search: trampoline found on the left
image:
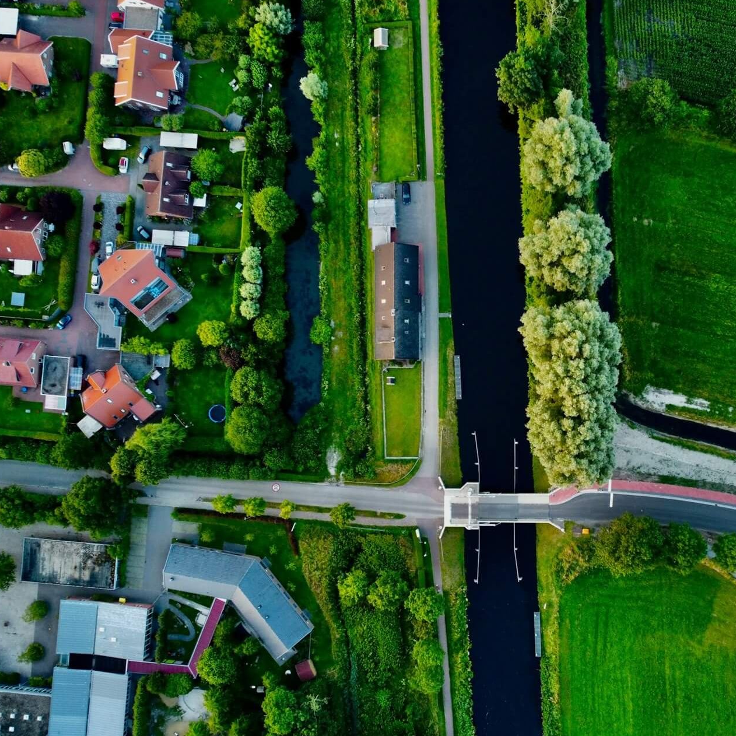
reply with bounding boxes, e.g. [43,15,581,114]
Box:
[207,404,226,423]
